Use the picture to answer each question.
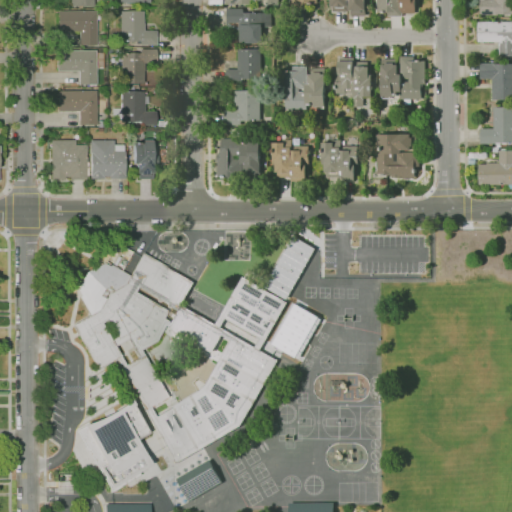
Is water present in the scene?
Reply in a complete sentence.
No, there's no water in this view.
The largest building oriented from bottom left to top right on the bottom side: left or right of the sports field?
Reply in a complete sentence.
Relative to the sports field, the largest building oriented from bottom left to top right on the bottom side is on the left.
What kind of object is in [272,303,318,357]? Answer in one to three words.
building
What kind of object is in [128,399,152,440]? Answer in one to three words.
building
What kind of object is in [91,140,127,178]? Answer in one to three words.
house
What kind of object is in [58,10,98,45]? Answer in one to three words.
house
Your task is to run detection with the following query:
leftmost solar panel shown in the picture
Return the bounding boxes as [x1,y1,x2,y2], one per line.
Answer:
[96,417,134,452]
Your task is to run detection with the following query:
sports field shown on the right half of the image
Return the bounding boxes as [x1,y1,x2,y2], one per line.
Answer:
[380,282,512,512]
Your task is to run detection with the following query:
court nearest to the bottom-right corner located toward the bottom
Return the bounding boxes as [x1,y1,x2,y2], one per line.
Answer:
[338,482,380,503]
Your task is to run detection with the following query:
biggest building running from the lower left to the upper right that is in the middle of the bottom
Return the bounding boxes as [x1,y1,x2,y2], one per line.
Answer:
[157,344,276,462]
